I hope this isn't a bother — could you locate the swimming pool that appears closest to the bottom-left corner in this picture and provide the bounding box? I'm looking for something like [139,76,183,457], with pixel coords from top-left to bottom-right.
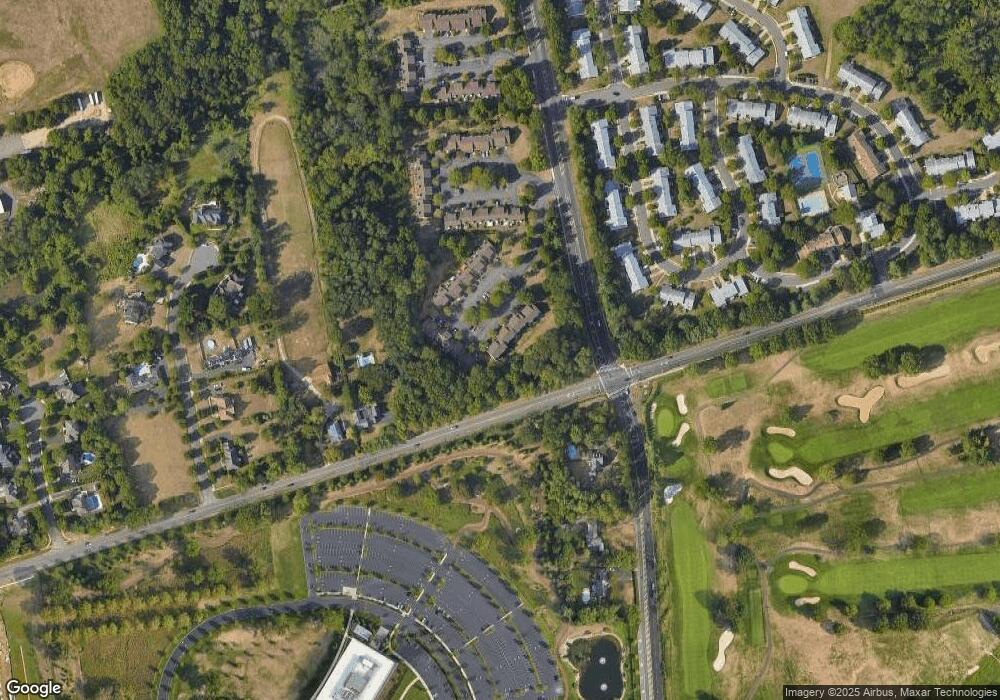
[82,491,103,513]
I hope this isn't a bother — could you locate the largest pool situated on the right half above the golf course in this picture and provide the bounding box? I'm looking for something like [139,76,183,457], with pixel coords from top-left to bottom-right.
[797,189,831,217]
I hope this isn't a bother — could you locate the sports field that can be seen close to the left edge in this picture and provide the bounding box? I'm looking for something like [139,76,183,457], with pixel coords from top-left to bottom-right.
[0,58,38,103]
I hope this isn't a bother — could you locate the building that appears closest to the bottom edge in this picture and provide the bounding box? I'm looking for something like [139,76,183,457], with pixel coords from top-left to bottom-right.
[317,638,395,700]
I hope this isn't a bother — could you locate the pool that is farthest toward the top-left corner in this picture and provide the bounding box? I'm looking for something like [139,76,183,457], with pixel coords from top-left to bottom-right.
[132,254,148,273]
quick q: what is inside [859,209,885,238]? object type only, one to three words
house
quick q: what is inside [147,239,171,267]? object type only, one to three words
house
